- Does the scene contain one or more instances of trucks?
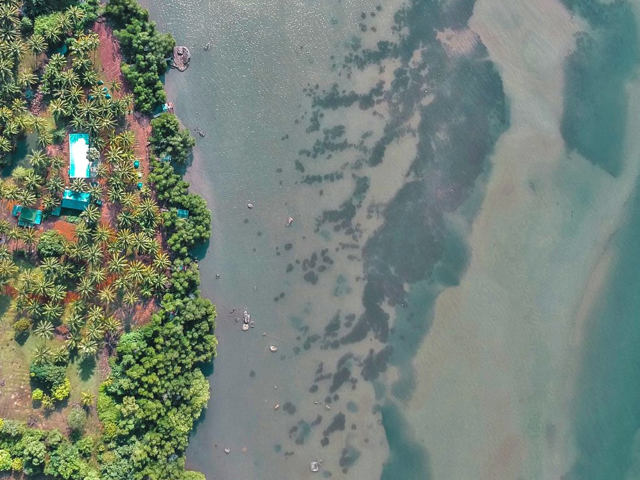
No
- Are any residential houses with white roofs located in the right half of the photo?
No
